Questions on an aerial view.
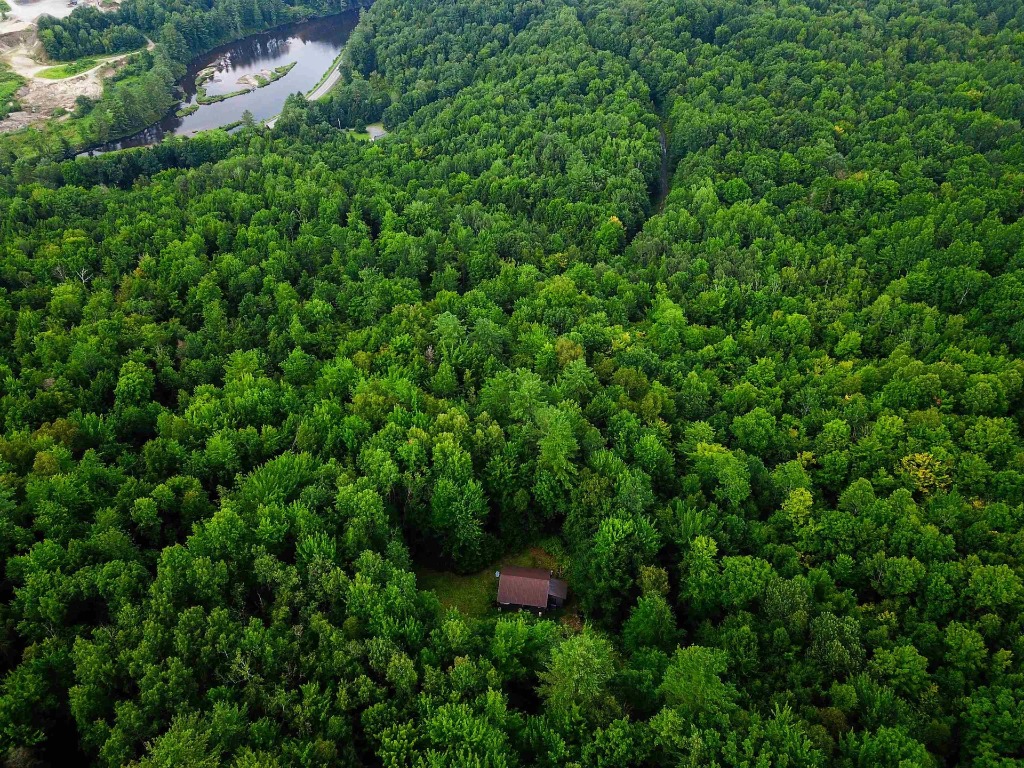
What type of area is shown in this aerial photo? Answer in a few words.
forest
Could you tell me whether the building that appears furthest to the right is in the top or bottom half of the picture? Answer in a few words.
bottom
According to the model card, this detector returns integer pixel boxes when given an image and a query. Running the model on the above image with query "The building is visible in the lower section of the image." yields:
[496,566,568,613]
